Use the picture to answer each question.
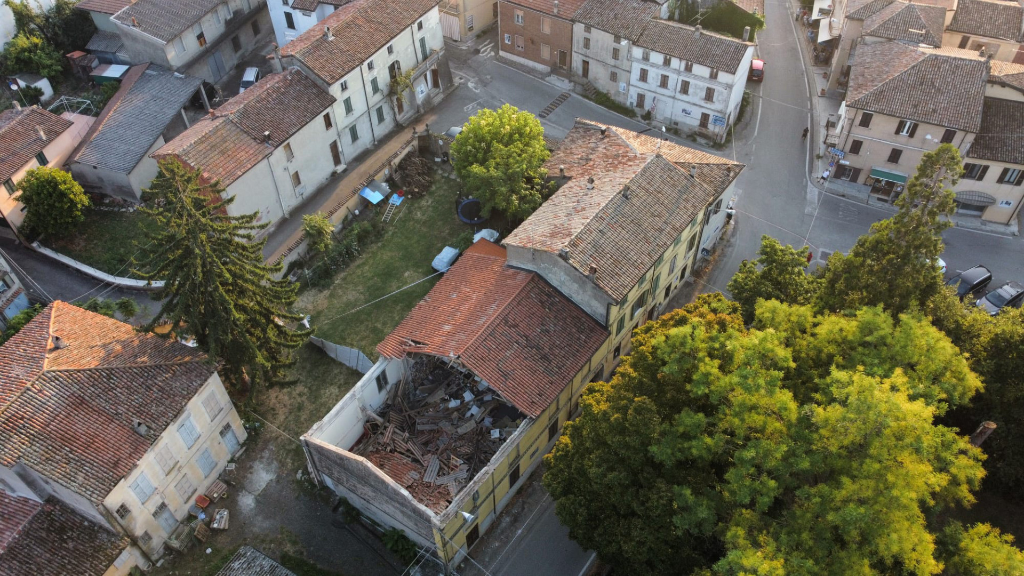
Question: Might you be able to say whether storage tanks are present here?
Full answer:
No, no storage tank can be seen from above.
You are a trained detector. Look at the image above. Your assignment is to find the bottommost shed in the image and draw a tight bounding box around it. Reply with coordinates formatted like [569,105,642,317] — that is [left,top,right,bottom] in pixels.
[222,544,294,576]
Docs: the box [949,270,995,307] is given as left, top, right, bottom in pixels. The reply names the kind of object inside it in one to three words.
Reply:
car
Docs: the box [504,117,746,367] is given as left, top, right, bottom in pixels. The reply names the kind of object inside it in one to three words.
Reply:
house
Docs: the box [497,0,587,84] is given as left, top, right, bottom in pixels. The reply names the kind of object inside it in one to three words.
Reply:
house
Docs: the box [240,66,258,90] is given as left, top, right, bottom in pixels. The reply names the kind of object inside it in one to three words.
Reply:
vehicle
